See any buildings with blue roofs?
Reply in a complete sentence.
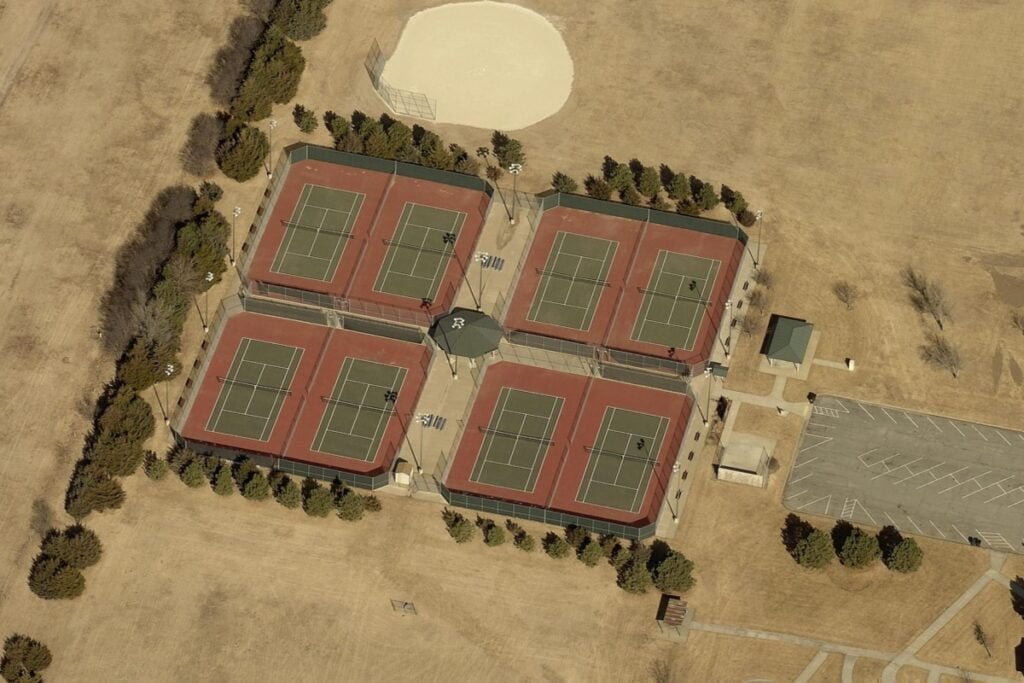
No, there's no building with a blue roof here.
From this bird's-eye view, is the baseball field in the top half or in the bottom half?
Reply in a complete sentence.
Seen from above, the baseball field lies in the top half of the view.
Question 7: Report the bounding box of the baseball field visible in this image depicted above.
[377,0,573,131]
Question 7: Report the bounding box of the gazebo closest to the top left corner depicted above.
[435,310,504,366]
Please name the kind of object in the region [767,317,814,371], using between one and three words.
building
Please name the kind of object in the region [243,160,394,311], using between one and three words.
tennis court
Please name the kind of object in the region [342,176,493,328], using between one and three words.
tennis court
